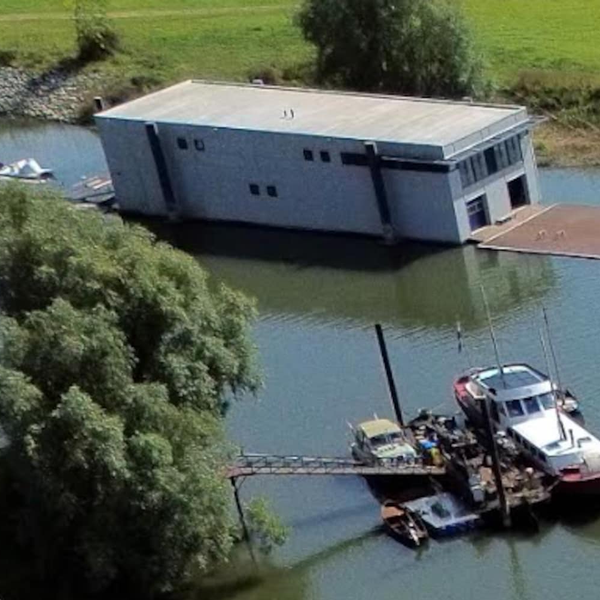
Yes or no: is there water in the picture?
Yes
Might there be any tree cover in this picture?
Yes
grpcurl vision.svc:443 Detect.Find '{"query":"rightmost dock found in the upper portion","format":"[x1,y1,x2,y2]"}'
[63,174,116,201]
